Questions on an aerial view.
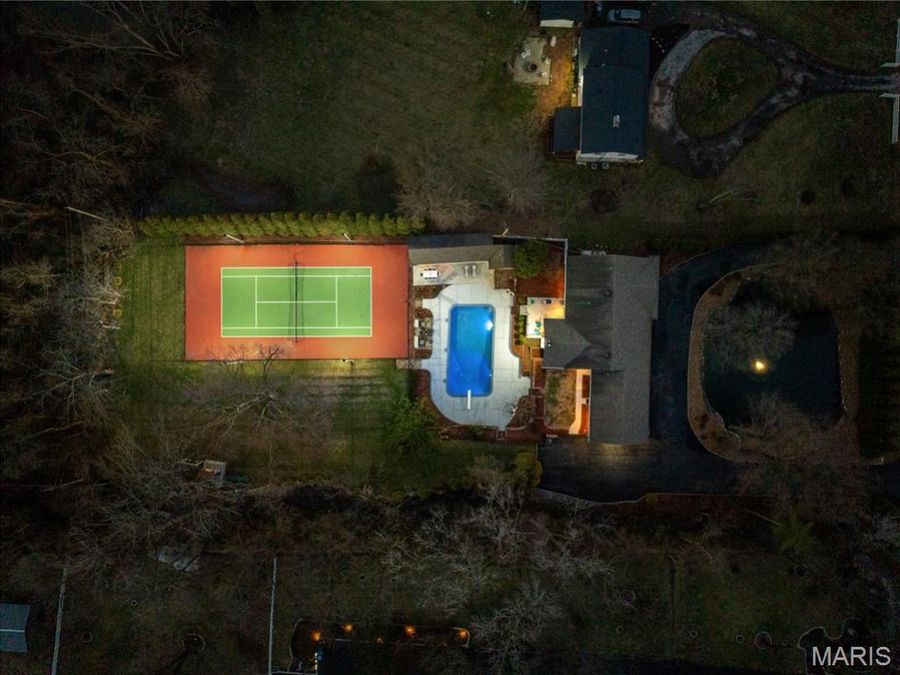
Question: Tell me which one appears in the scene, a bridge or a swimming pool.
swimming pool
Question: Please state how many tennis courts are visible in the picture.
1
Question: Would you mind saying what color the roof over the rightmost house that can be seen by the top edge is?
black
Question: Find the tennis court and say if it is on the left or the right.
left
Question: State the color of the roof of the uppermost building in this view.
black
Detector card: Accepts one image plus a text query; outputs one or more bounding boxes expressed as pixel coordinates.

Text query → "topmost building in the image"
[540,0,584,30]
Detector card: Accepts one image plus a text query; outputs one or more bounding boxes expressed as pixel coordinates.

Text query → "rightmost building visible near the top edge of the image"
[577,25,650,163]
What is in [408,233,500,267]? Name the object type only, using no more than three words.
building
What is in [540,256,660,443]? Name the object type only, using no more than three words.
house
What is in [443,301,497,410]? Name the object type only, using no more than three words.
swimming pool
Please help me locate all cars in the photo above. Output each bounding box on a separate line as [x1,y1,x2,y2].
[610,5,642,21]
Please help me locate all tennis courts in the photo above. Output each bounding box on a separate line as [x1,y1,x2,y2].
[185,244,409,360]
